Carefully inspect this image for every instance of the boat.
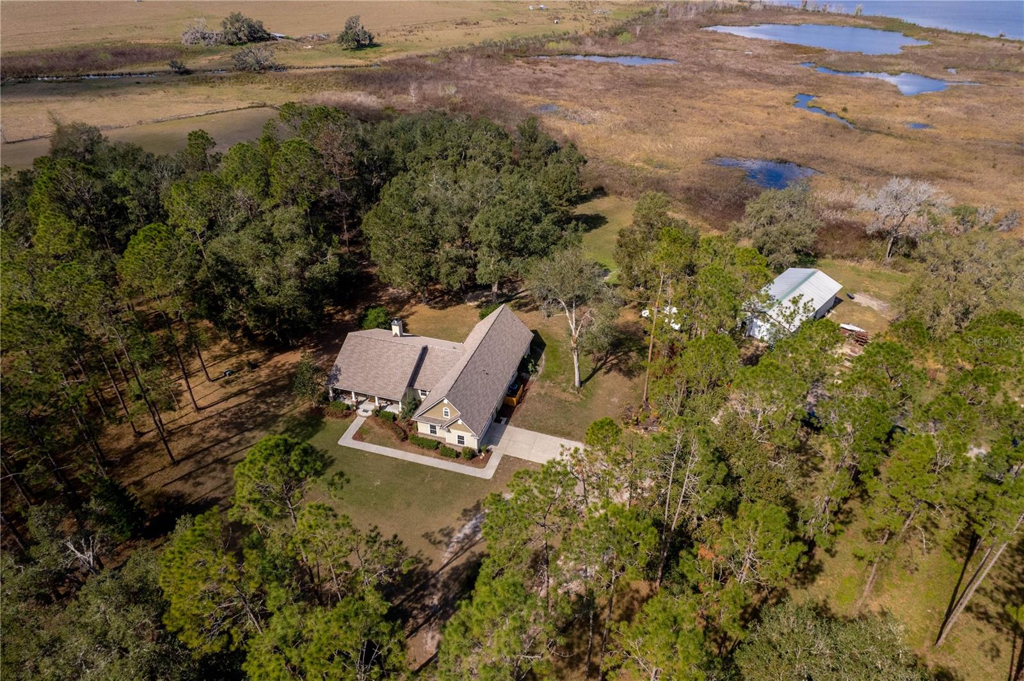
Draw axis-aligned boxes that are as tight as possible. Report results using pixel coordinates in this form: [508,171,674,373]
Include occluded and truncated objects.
[837,322,870,336]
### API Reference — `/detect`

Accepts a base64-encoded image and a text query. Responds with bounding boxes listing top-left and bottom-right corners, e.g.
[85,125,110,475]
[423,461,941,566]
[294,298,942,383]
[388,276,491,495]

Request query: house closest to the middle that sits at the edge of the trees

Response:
[328,304,534,453]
